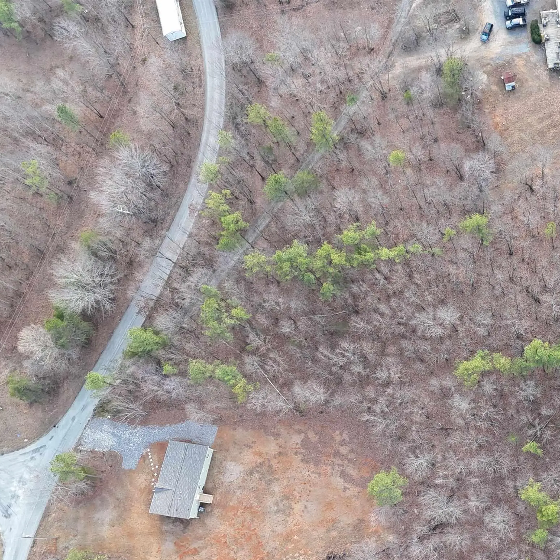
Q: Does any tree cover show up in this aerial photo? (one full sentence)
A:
Yes, tree cover can be seen from above here.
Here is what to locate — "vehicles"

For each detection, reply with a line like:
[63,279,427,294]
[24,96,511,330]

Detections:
[506,18,527,30]
[481,23,493,42]
[508,0,531,9]
[505,8,525,20]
